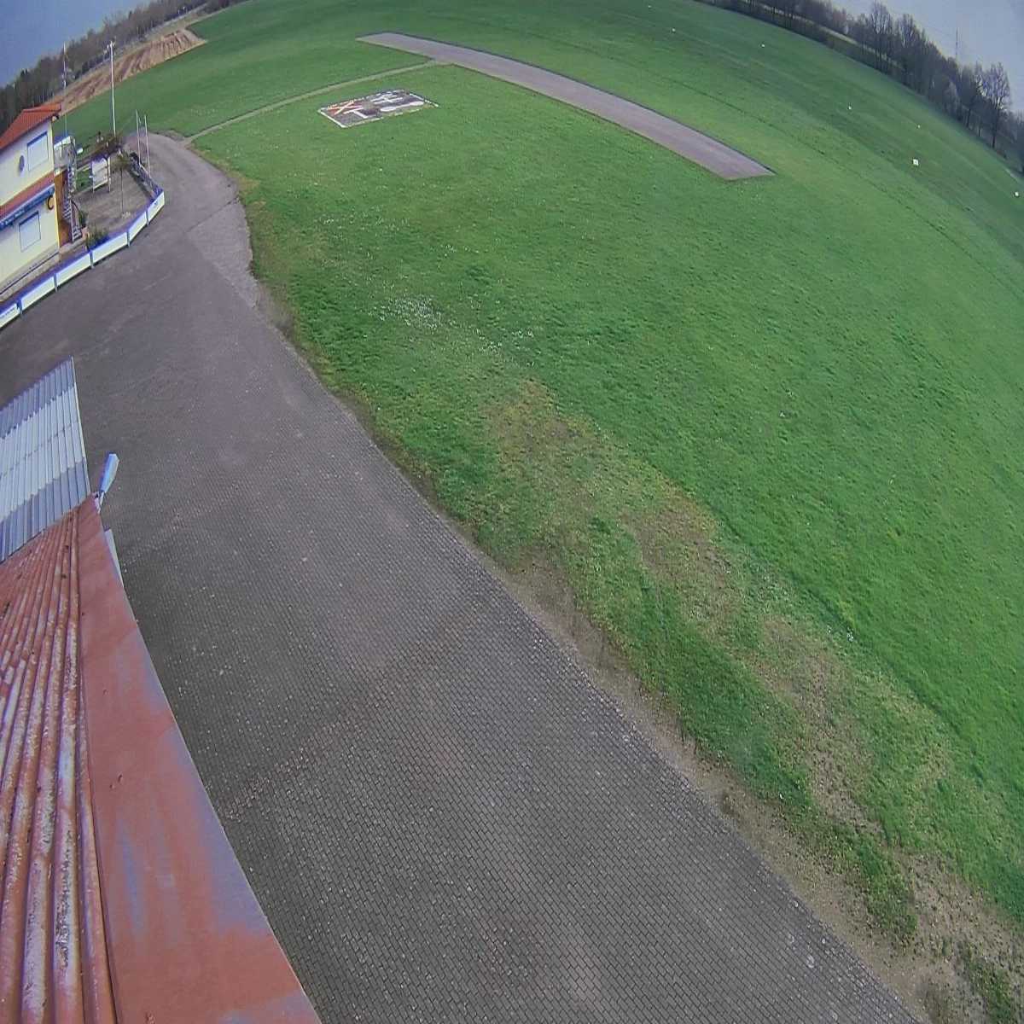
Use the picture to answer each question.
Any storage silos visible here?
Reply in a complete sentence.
No, I can't see a single storage silo in this photo.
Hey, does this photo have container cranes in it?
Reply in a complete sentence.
No, I can't see a single container crane in this photo.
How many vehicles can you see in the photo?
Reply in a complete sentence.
The picture shows no vehicles.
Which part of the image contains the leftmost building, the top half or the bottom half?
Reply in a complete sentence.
You can find the leftmost building in the top half.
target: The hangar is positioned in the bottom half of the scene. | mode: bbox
[0,498,327,1024]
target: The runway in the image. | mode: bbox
[358,33,772,179]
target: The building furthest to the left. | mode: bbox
[0,104,77,283]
